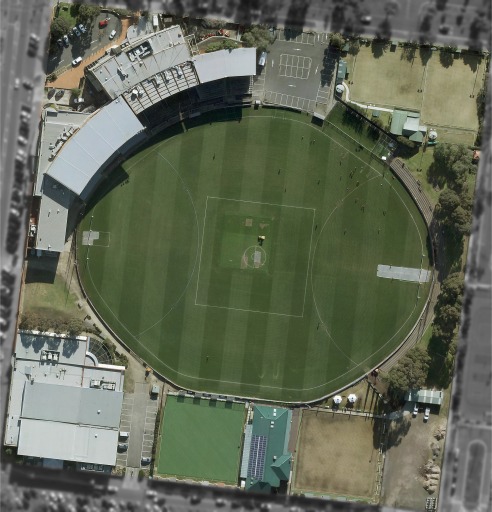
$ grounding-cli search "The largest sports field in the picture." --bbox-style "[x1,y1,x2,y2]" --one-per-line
[76,104,434,402]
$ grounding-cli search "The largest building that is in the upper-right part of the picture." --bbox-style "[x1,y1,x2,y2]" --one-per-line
[390,110,426,142]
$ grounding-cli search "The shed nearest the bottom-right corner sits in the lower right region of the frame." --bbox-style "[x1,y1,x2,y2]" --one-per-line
[405,388,444,404]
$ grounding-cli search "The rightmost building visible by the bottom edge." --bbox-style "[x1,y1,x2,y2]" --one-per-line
[240,404,293,494]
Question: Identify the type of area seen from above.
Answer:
sports ground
